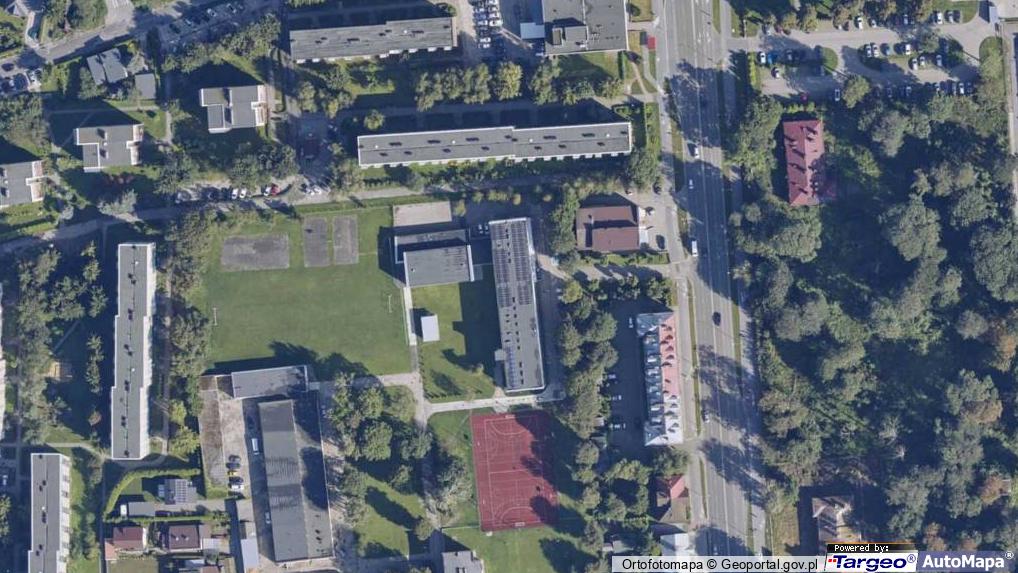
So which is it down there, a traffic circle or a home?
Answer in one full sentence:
This aerial view contains a home.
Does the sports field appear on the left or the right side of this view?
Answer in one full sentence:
The sports field appears in the left half of the scene.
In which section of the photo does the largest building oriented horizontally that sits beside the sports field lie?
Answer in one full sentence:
Look in the top portion of the view to spot the largest building oriented horizontally that sits beside the sports field.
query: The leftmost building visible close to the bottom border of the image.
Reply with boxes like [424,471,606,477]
[27,454,72,573]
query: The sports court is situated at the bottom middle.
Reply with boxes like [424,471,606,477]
[471,409,558,531]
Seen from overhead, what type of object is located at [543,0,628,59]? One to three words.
building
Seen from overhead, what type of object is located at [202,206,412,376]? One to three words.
sports field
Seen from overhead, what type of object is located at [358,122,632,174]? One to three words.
building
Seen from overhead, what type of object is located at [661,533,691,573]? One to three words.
house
